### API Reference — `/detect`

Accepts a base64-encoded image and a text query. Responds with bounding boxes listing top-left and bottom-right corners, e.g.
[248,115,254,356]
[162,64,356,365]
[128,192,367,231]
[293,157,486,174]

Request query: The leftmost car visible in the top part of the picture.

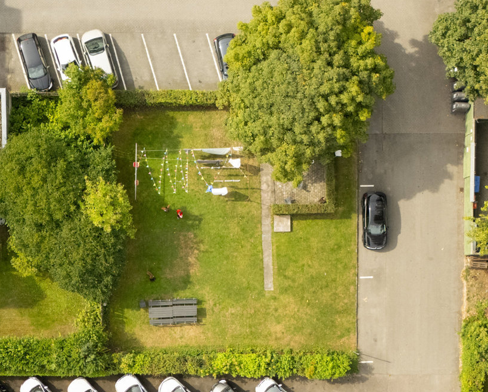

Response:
[19,31,52,90]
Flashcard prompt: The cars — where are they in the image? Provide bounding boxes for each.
[207,379,238,392]
[160,378,191,392]
[361,190,390,250]
[68,377,98,392]
[19,31,52,90]
[52,33,85,76]
[85,28,119,84]
[214,29,236,62]
[20,376,51,392]
[114,375,147,392]
[255,380,285,392]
